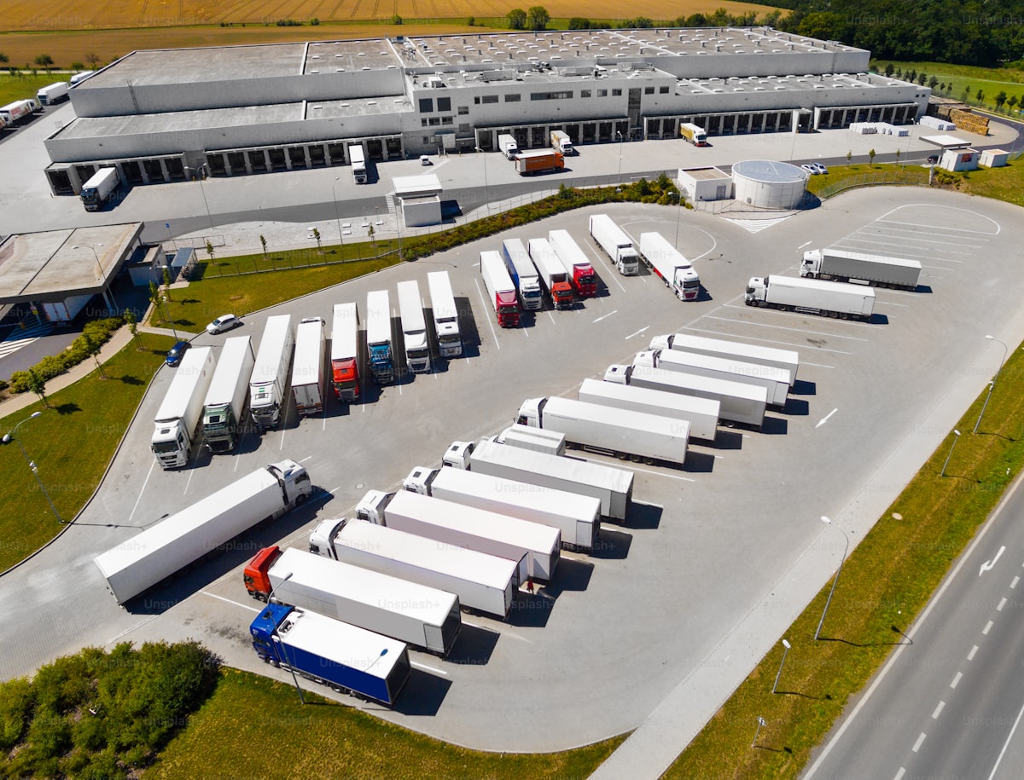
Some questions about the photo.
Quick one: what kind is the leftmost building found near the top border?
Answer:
warehouse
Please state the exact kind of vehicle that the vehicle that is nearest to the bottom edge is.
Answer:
truck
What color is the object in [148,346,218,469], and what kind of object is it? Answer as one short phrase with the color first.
white truck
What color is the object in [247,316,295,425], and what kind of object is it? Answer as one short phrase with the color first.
white truck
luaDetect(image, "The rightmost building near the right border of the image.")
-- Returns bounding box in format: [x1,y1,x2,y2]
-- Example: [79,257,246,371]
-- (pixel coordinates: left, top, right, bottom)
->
[979,149,1009,166]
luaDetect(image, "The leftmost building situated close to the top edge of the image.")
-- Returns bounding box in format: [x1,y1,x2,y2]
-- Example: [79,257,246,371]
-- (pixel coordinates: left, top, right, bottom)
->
[41,23,932,196]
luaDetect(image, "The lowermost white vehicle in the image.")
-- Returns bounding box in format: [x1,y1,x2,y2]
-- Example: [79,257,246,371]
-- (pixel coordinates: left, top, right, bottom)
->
[241,605,412,709]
